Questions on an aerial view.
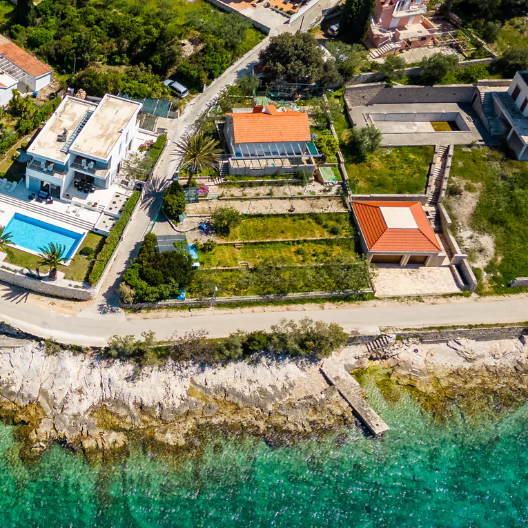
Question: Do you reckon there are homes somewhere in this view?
Yes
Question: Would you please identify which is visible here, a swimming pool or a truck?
swimming pool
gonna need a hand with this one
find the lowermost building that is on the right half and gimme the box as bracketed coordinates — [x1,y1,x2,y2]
[347,200,442,267]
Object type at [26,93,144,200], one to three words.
house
